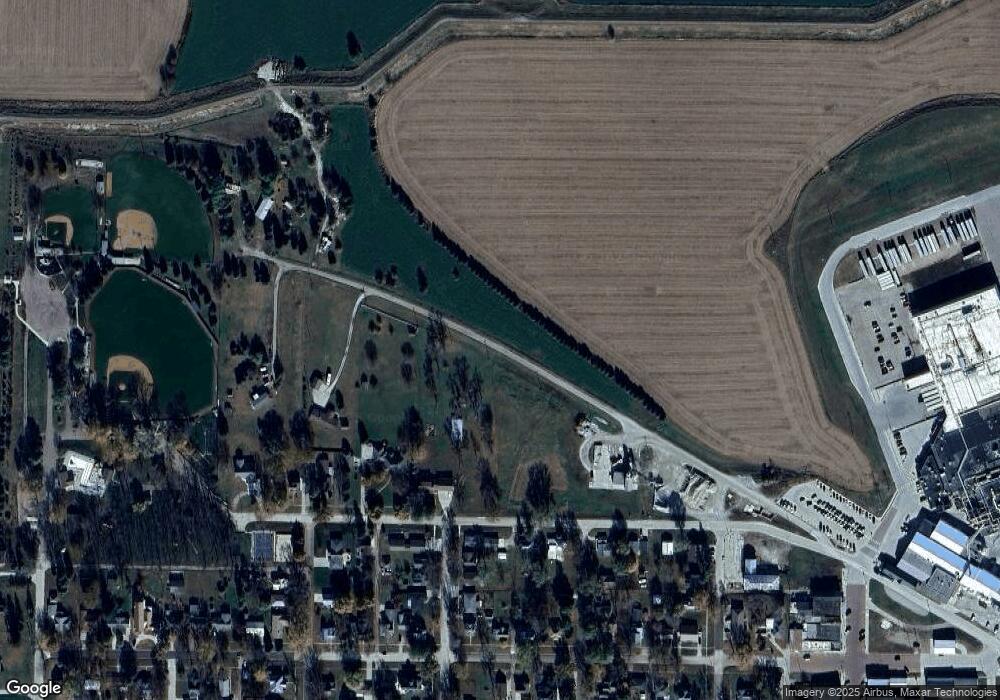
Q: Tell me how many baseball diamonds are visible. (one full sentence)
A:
In total, 3 baseball diamonds can be seen.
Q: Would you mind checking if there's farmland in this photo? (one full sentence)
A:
Yes, farmland shows up in the scene.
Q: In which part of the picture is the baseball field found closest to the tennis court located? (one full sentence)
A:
The baseball field found closest to the tennis court is located in the left region of the scene.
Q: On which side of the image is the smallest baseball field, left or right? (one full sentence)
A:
The smallest baseball field appears in the left half of the scene.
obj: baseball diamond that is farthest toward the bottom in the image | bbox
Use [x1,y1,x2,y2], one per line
[88,268,218,422]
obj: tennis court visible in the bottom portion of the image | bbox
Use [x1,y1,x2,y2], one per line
[252,531,274,562]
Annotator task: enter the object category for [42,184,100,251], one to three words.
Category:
baseball field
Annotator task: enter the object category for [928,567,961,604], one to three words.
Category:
building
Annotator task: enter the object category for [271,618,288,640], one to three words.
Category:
house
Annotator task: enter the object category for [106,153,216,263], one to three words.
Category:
baseball field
